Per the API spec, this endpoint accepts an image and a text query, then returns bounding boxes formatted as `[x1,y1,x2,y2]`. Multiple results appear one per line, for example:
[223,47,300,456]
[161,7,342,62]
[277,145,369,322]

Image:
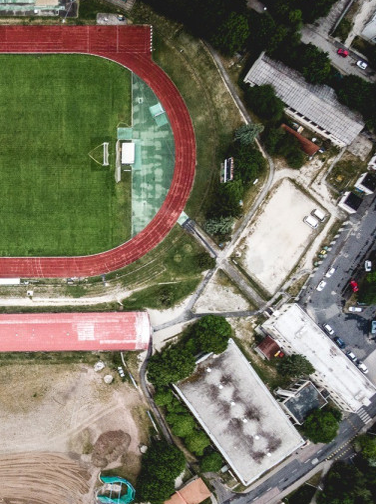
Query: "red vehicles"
[336,48,349,57]
[350,281,358,292]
